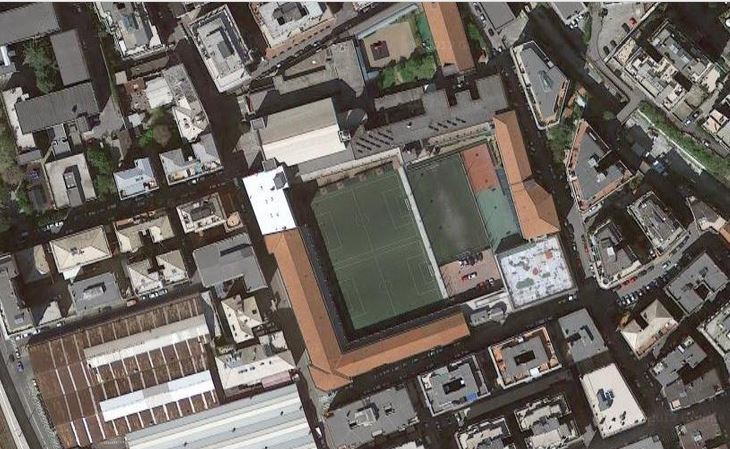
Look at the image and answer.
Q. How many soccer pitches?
2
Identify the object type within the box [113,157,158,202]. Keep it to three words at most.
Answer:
house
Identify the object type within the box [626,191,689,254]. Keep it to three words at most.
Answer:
building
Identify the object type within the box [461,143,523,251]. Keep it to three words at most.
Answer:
sports court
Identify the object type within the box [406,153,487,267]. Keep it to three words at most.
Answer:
soccer field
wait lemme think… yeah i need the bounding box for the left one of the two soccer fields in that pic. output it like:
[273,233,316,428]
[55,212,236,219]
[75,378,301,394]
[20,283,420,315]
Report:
[307,169,446,332]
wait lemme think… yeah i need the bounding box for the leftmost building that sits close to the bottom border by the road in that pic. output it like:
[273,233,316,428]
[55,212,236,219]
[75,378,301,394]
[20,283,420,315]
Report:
[29,291,219,449]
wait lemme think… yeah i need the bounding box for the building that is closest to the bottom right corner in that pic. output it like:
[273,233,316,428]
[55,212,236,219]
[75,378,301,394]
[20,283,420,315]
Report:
[674,414,723,449]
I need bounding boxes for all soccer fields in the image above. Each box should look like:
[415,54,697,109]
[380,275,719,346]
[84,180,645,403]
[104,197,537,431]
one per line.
[307,169,446,332]
[406,153,487,267]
